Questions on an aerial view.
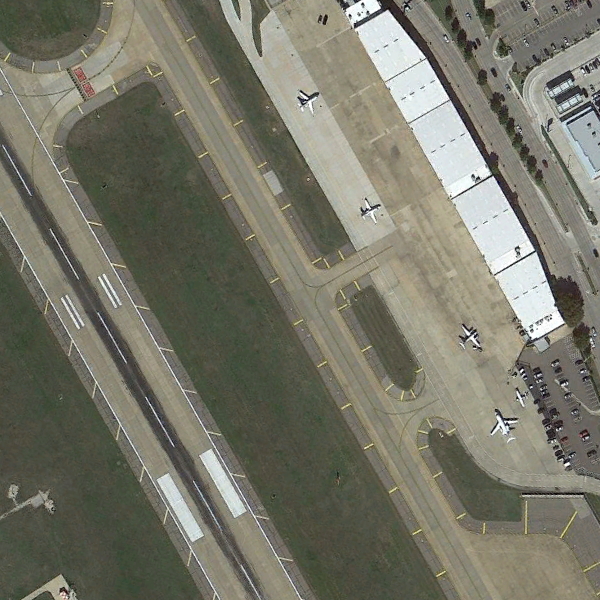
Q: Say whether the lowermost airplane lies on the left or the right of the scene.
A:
right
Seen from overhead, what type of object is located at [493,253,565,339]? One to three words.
hangar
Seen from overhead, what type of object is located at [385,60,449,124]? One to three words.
hangar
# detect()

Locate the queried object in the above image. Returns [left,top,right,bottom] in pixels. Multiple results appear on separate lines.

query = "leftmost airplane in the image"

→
[295,90,319,115]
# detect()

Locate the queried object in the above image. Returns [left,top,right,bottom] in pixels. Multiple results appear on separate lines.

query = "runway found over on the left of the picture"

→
[0,67,305,600]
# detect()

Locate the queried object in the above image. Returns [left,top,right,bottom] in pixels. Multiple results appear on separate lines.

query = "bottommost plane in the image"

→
[491,411,519,444]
